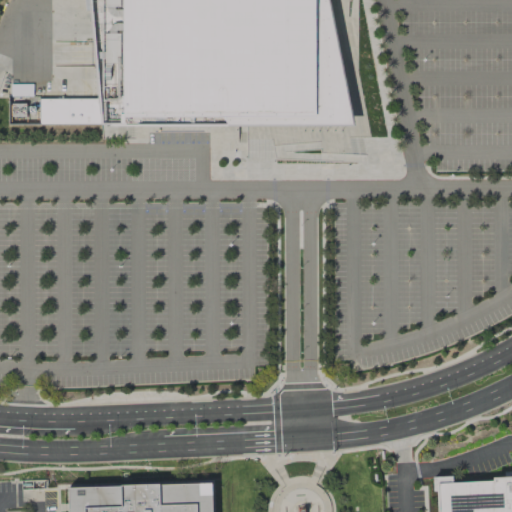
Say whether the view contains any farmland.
No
